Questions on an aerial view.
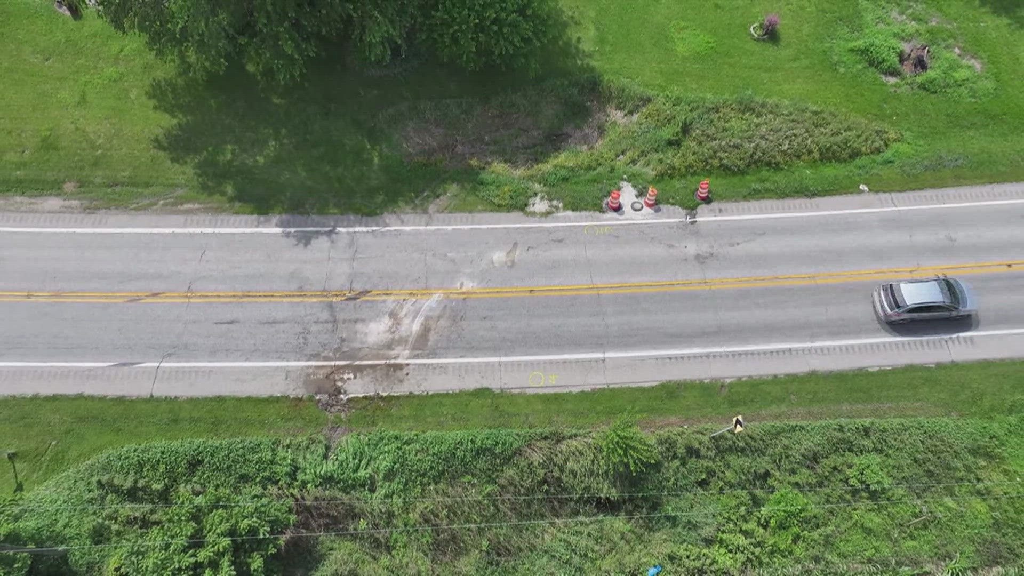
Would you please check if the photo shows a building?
No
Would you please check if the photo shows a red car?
No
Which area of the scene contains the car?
right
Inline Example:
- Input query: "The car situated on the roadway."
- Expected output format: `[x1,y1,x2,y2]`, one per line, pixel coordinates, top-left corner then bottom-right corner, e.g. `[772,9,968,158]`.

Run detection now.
[874,273,982,323]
